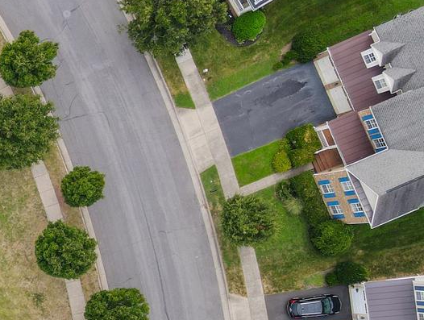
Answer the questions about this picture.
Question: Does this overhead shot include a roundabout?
No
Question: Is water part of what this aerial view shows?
No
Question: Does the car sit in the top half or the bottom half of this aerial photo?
bottom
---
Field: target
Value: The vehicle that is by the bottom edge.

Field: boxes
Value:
[283,294,339,320]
